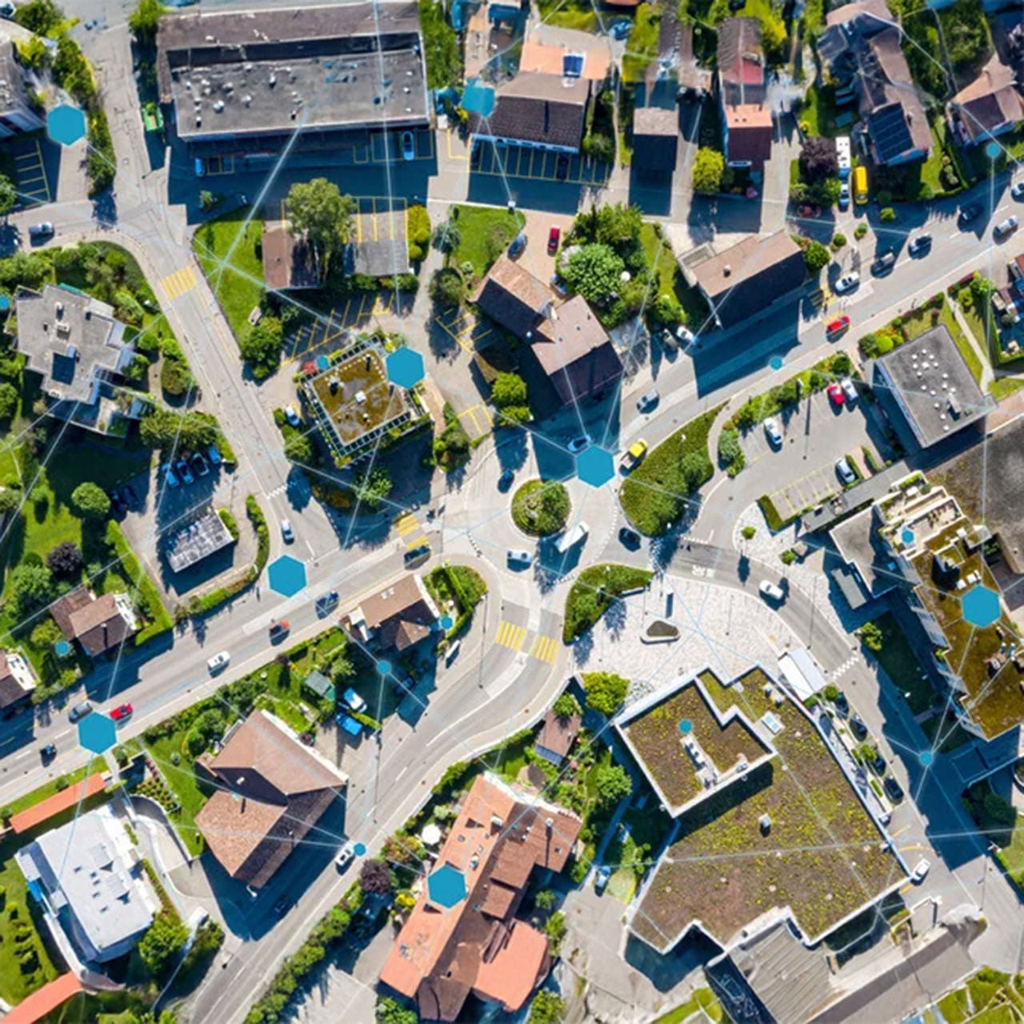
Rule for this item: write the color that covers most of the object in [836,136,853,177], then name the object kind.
white vehicle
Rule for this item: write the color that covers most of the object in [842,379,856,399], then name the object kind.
white car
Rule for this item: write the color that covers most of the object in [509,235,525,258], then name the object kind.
blue car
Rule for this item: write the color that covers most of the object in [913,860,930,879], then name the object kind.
white car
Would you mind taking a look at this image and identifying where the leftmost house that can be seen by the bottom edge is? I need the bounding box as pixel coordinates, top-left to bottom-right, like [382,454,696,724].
[15,797,165,977]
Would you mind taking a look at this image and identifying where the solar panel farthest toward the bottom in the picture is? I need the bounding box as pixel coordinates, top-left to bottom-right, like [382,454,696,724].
[536,745,562,765]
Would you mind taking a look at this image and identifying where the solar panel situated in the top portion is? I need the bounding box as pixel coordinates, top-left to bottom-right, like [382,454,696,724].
[868,104,912,163]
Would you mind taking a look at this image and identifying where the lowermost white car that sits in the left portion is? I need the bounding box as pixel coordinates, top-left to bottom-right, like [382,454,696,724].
[335,847,353,867]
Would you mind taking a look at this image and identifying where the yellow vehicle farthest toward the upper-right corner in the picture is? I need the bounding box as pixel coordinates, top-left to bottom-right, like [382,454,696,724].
[854,167,870,200]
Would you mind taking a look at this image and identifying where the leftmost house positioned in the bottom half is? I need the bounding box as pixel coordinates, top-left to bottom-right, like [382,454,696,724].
[0,650,45,705]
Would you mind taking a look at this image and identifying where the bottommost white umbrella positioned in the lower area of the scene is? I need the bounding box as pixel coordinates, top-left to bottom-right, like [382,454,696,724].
[422,824,442,844]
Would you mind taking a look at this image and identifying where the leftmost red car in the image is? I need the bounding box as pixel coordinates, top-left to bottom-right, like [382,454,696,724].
[110,703,133,719]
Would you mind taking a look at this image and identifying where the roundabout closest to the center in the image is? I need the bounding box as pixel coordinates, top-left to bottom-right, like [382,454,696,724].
[468,434,615,581]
